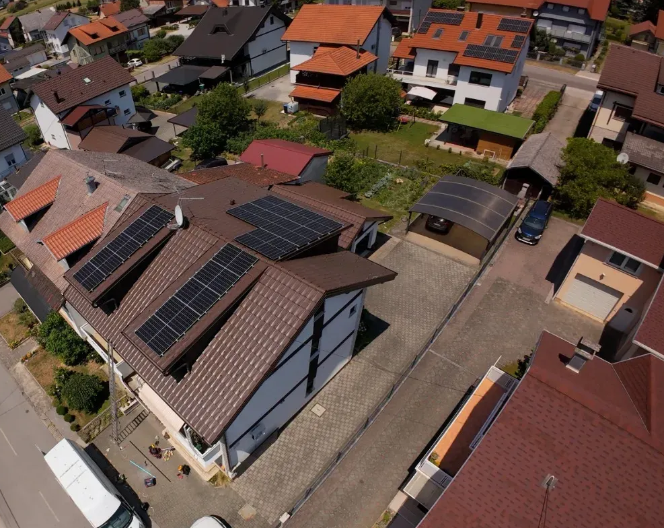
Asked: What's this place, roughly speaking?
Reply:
residential area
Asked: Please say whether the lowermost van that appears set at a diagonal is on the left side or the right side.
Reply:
left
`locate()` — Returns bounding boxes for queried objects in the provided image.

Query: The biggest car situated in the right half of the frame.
[517,189,559,237]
